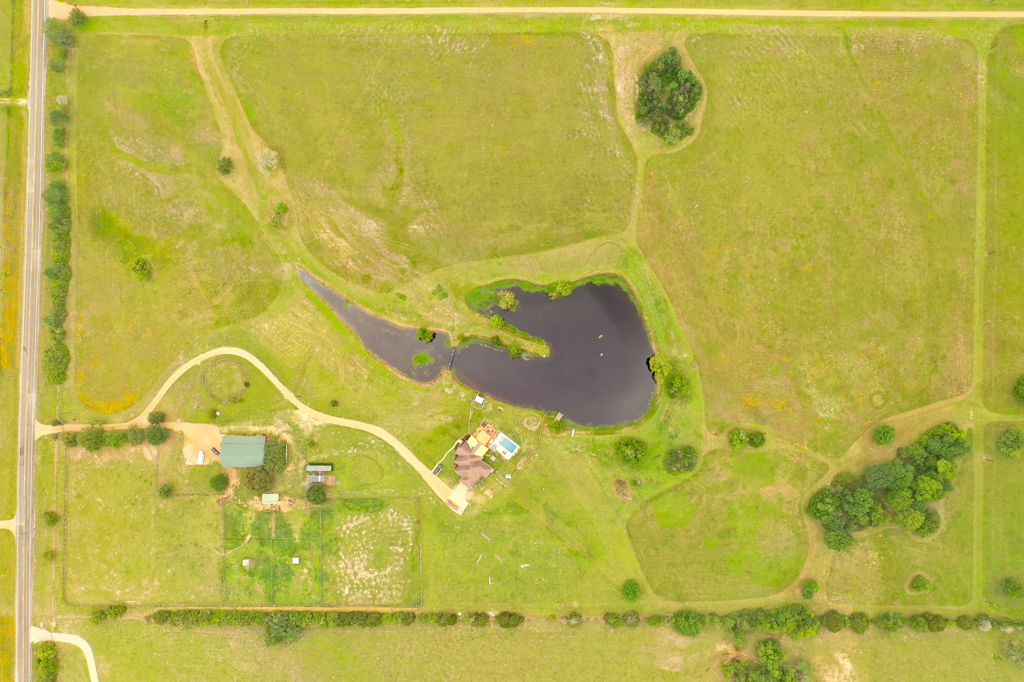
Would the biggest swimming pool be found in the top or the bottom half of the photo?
bottom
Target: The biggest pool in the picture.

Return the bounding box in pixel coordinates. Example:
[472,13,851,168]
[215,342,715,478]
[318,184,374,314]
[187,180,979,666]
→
[489,432,520,460]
